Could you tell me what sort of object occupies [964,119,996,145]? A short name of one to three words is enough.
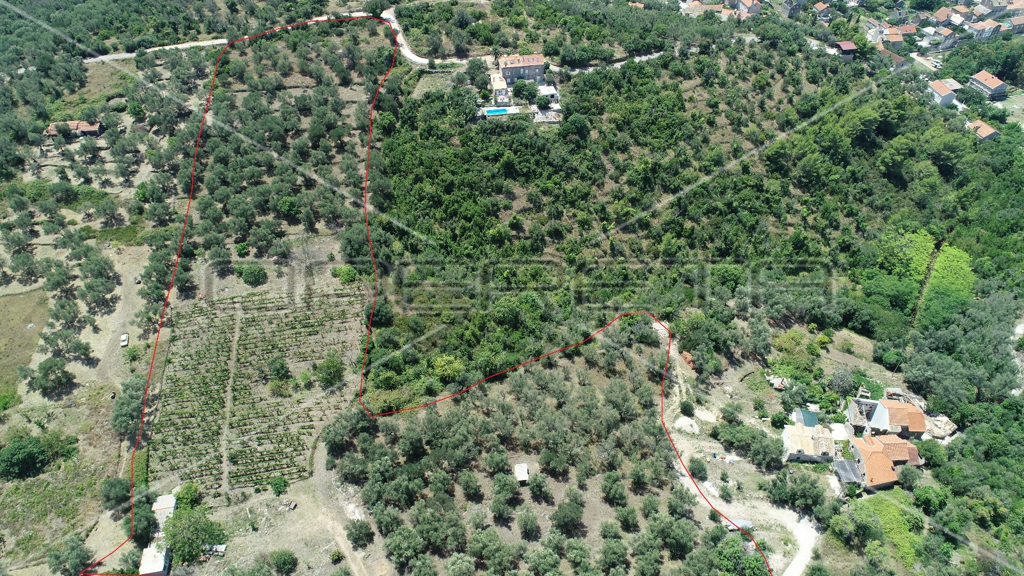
house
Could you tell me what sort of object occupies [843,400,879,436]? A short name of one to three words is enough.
house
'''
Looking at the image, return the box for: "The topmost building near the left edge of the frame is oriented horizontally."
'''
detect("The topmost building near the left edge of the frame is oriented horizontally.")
[47,122,103,141]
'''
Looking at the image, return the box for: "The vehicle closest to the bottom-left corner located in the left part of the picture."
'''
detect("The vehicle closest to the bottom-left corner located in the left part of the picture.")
[117,331,129,347]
